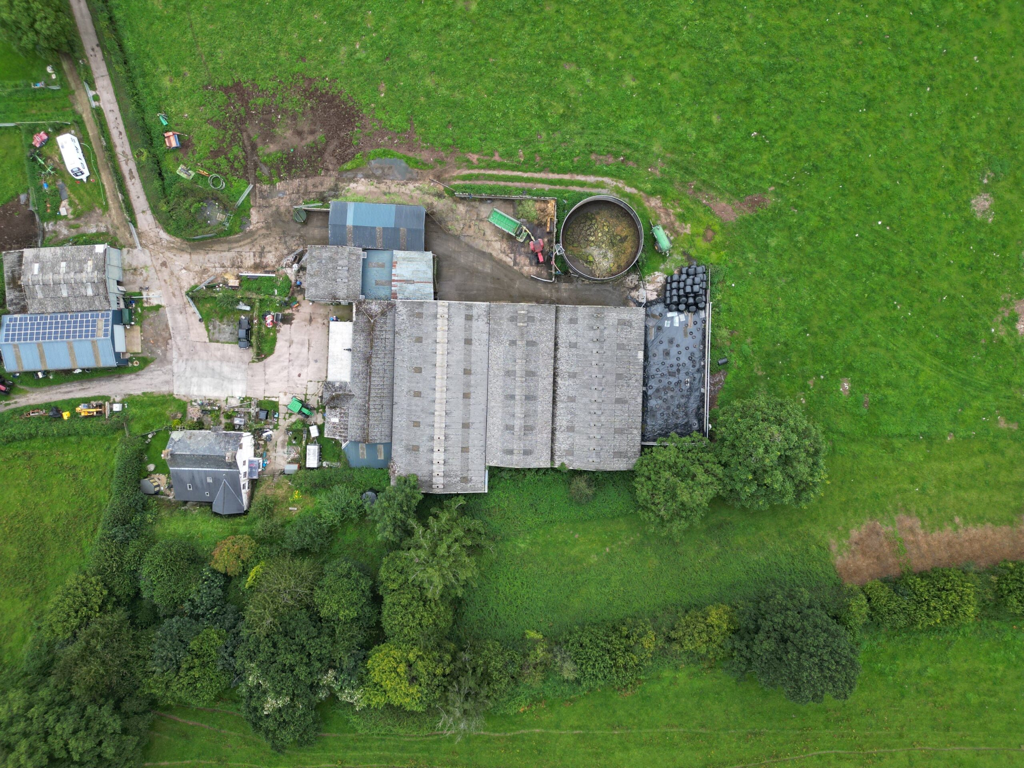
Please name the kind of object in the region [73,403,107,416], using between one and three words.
vehicle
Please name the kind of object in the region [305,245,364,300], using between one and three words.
shed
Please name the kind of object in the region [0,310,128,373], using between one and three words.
barn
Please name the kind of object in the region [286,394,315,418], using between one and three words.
work vehicle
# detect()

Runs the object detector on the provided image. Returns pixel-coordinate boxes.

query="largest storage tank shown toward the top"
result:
[555,195,644,282]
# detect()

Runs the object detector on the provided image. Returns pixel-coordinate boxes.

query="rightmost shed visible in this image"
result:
[550,305,645,470]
